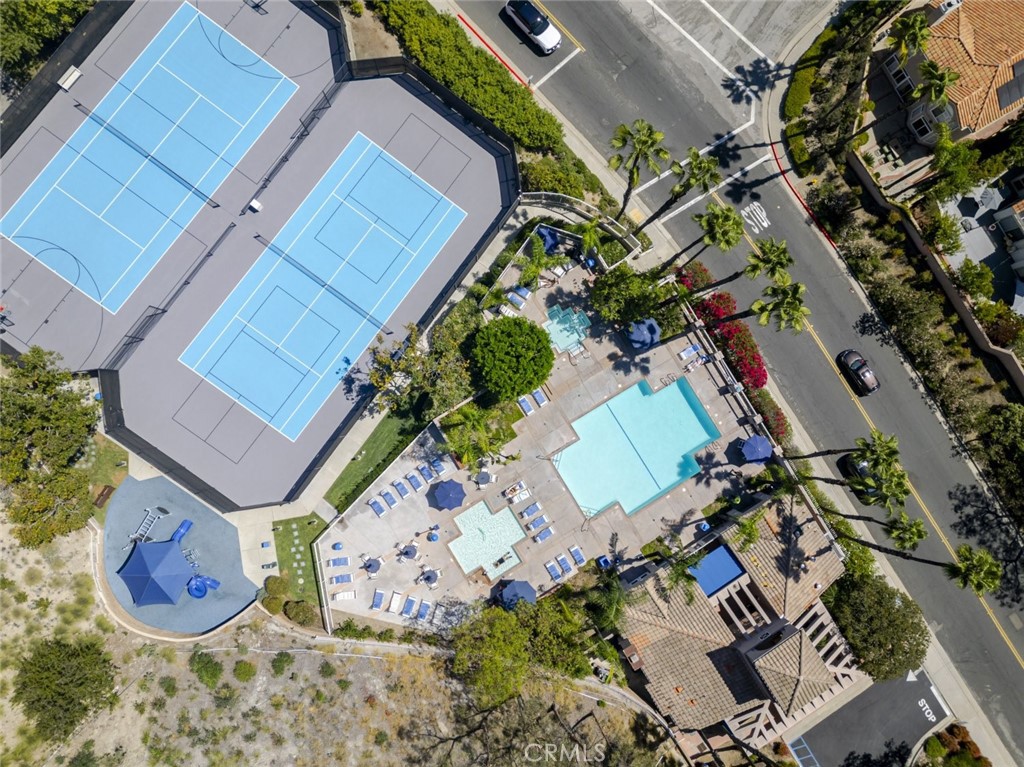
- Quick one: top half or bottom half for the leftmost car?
top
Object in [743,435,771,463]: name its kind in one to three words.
umbrella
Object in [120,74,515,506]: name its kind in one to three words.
tennis court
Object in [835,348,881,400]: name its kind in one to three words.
car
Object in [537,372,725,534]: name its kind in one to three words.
swimming pool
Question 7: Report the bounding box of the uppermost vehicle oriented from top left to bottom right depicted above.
[506,0,559,53]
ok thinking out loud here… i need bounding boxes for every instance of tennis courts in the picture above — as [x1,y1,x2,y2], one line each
[0,0,351,372]
[120,74,515,506]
